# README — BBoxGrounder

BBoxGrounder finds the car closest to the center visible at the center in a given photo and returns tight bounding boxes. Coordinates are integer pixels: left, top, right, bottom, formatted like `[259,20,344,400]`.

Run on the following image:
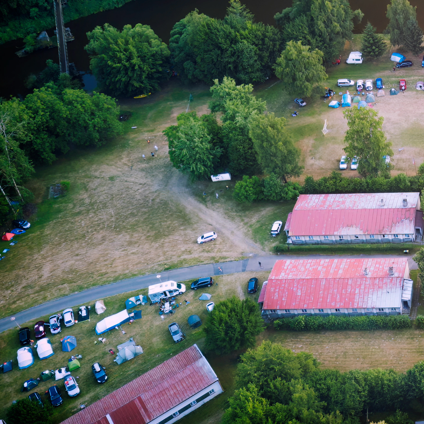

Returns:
[195,230,218,245]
